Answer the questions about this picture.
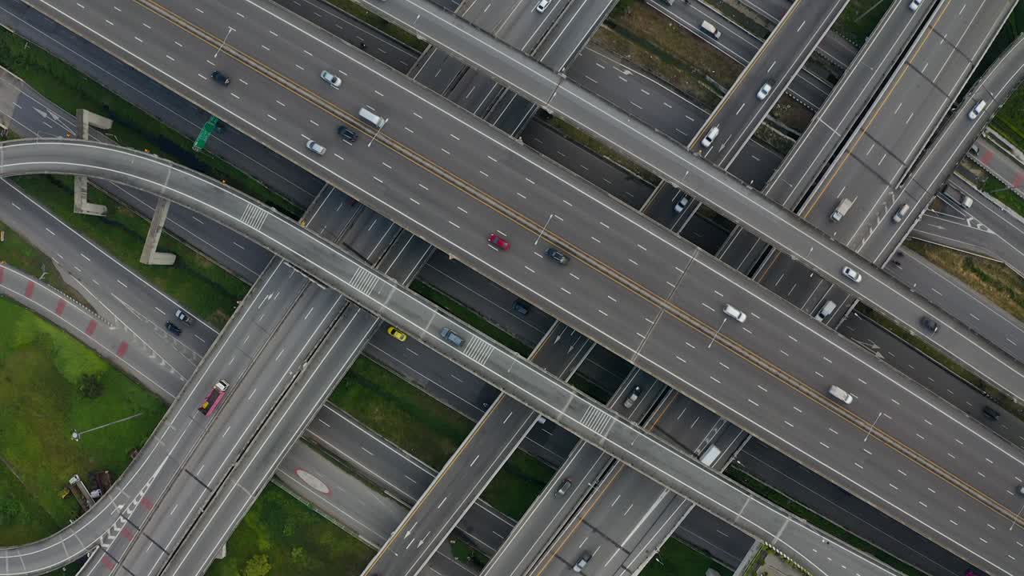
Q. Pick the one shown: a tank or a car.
car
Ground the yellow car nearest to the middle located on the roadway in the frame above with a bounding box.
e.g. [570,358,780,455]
[386,325,407,341]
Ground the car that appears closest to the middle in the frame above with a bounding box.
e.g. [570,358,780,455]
[511,298,532,315]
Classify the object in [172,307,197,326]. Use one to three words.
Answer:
vehicle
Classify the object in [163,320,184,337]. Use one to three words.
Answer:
car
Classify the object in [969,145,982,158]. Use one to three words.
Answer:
vehicle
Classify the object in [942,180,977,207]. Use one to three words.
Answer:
truck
